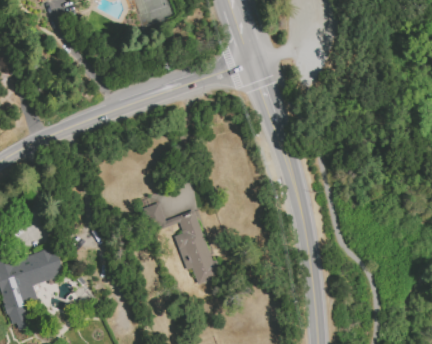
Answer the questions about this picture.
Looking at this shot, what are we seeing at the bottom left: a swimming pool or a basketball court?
swimming pool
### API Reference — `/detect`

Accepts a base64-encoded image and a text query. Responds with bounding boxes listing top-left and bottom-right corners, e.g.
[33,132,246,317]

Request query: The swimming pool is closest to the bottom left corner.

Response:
[48,277,91,312]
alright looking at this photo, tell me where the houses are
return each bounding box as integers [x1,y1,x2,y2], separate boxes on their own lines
[0,252,59,330]
[142,200,213,281]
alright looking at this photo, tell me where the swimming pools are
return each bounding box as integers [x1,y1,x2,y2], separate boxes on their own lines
[77,0,128,22]
[48,277,91,312]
